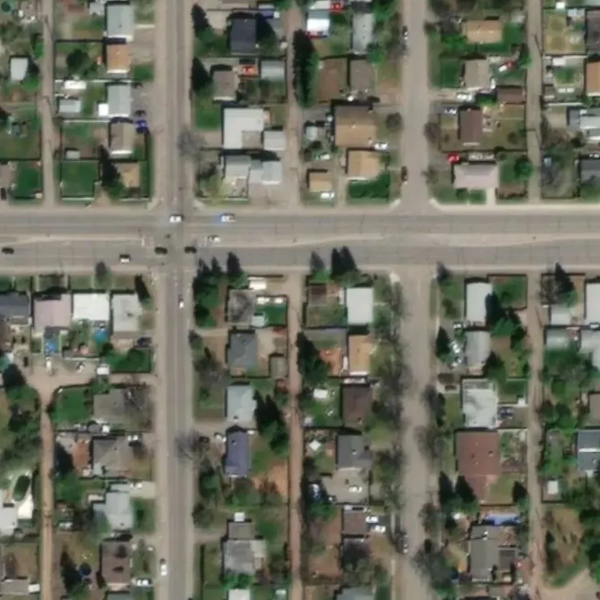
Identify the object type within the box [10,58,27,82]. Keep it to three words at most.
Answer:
building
